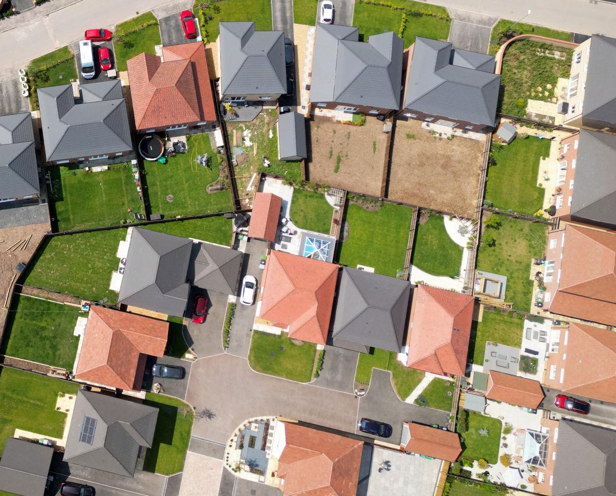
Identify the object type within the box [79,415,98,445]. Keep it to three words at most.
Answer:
solar panel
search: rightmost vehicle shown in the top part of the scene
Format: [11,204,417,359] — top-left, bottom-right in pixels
[320,0,334,25]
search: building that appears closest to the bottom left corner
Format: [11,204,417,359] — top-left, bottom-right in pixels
[0,437,55,496]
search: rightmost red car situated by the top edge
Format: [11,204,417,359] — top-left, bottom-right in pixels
[180,11,197,40]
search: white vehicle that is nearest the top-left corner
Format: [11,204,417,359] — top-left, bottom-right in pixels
[78,37,96,81]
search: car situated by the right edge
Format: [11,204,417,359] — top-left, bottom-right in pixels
[554,395,591,417]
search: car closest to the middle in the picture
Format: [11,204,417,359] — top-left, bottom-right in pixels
[240,275,257,306]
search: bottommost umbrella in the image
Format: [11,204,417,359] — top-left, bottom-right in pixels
[498,463,522,491]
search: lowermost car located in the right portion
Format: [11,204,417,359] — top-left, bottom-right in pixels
[356,418,392,438]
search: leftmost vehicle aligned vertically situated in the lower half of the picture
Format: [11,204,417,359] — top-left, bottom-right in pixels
[192,295,207,325]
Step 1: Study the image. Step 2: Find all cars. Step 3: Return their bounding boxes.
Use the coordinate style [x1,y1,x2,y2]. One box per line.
[98,46,112,72]
[240,275,257,306]
[356,418,392,438]
[180,11,197,40]
[60,482,96,496]
[85,28,112,42]
[152,360,185,378]
[284,71,297,98]
[192,295,207,325]
[320,0,334,25]
[284,38,298,67]
[554,395,591,417]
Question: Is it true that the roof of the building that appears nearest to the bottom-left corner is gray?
Yes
